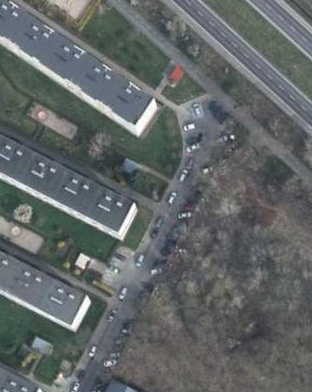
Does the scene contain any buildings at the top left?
Yes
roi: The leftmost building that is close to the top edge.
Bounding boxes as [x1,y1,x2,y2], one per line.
[0,0,154,135]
